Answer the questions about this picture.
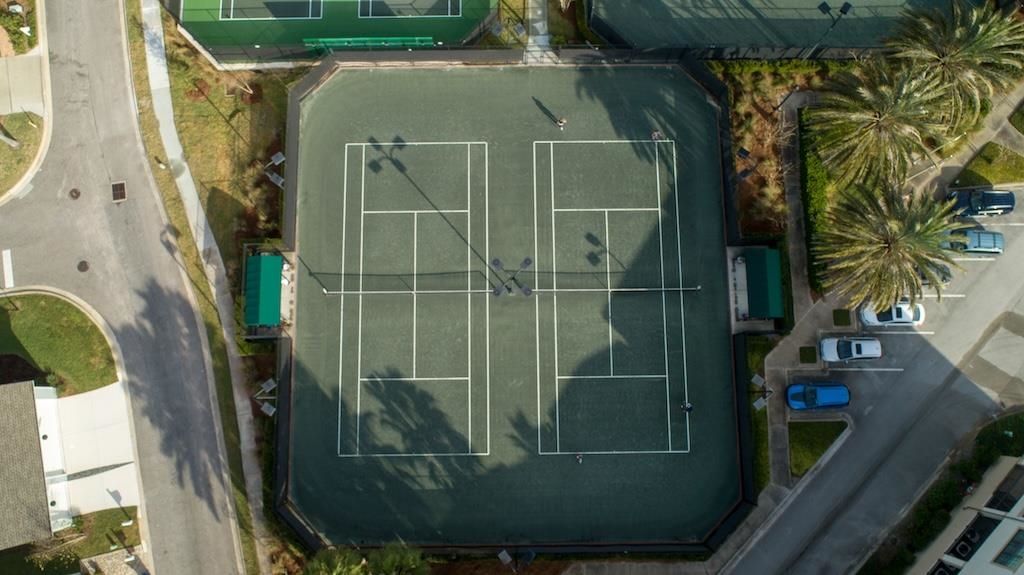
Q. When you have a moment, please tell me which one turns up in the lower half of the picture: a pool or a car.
car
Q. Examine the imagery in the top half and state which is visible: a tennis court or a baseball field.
tennis court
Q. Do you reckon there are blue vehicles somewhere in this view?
Yes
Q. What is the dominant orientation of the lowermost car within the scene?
from left to right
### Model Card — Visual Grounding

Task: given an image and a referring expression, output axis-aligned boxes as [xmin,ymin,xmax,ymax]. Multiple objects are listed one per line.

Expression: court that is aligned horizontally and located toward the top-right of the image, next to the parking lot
[591,0,1000,48]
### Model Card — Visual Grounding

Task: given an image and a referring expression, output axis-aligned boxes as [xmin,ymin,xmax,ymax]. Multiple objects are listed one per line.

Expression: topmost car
[946,188,1018,218]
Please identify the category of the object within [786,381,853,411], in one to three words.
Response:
car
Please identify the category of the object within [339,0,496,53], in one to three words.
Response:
tennis court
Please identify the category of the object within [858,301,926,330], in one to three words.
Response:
car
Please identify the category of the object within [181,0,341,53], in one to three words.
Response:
tennis court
